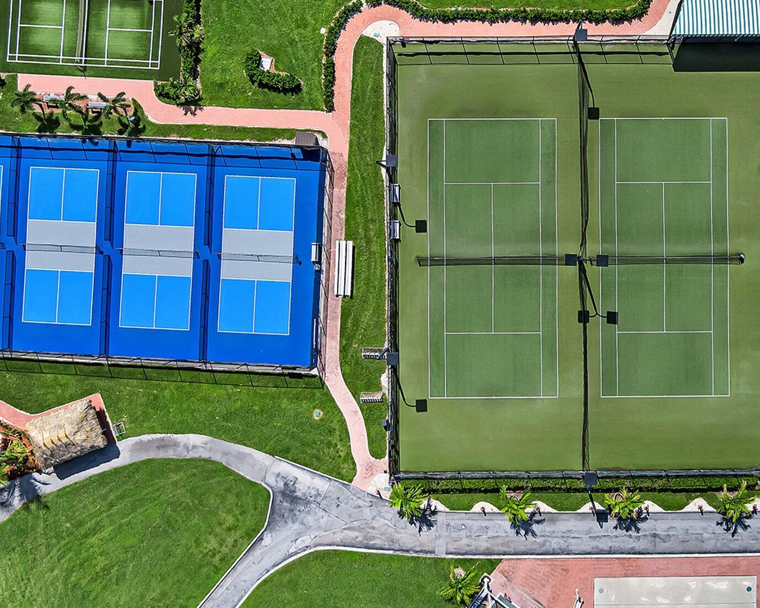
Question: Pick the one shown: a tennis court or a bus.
tennis court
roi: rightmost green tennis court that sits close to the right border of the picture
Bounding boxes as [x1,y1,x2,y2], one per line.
[581,42,760,472]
